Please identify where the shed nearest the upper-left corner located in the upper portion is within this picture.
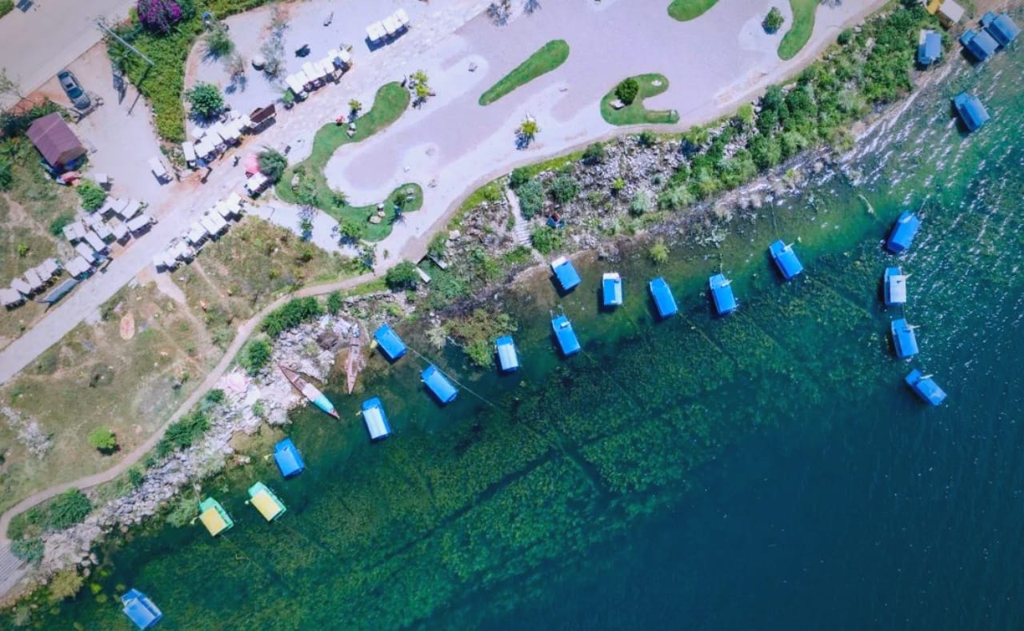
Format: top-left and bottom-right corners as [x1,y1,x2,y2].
[27,111,86,167]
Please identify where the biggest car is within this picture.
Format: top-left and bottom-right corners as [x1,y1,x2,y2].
[56,68,92,110]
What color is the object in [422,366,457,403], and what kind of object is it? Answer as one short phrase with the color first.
blue boat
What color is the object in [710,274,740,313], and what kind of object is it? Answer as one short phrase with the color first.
blue boat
